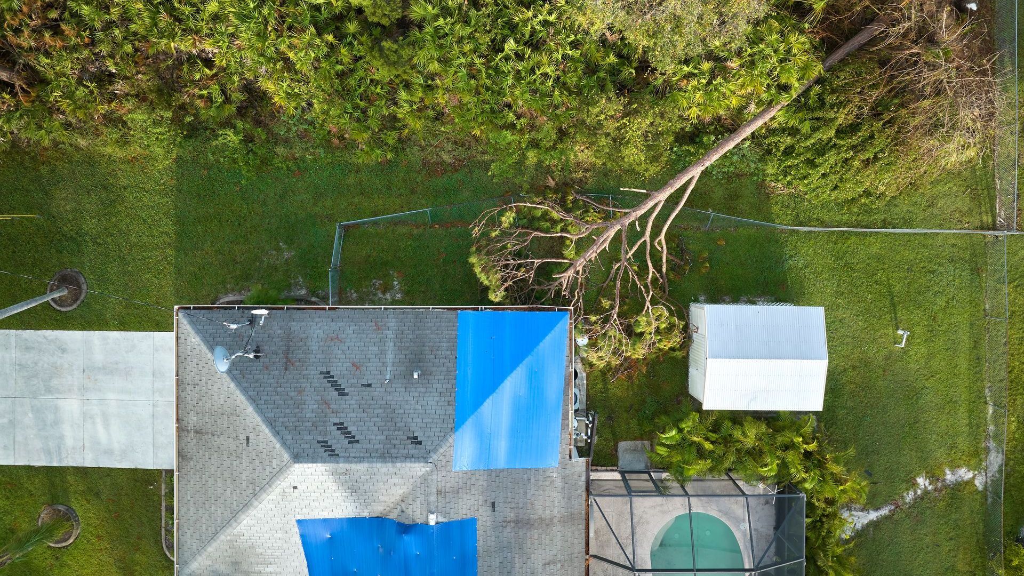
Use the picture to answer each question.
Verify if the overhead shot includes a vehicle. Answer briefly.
No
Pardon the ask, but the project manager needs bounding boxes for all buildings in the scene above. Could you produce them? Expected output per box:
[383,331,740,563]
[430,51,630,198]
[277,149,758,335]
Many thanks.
[687,299,832,411]
[174,306,593,576]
